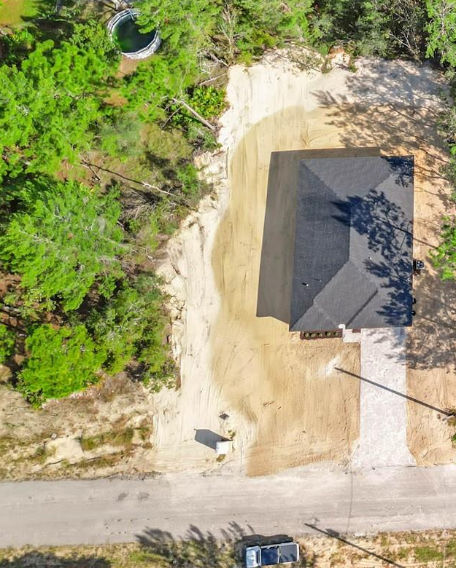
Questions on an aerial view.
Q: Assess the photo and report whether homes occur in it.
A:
Yes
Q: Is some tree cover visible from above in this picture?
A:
Yes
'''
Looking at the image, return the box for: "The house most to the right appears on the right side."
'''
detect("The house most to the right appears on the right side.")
[291,156,414,331]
